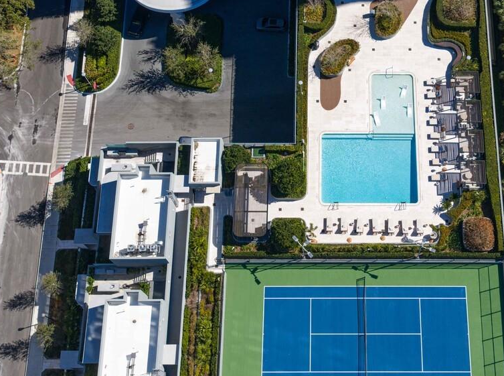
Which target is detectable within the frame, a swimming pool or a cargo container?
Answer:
swimming pool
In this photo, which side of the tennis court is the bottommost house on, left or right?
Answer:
on the left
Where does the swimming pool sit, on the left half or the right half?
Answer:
right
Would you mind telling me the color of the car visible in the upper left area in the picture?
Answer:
black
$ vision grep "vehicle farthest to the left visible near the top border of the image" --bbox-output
[124,8,148,42]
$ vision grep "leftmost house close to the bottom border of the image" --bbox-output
[60,263,173,376]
